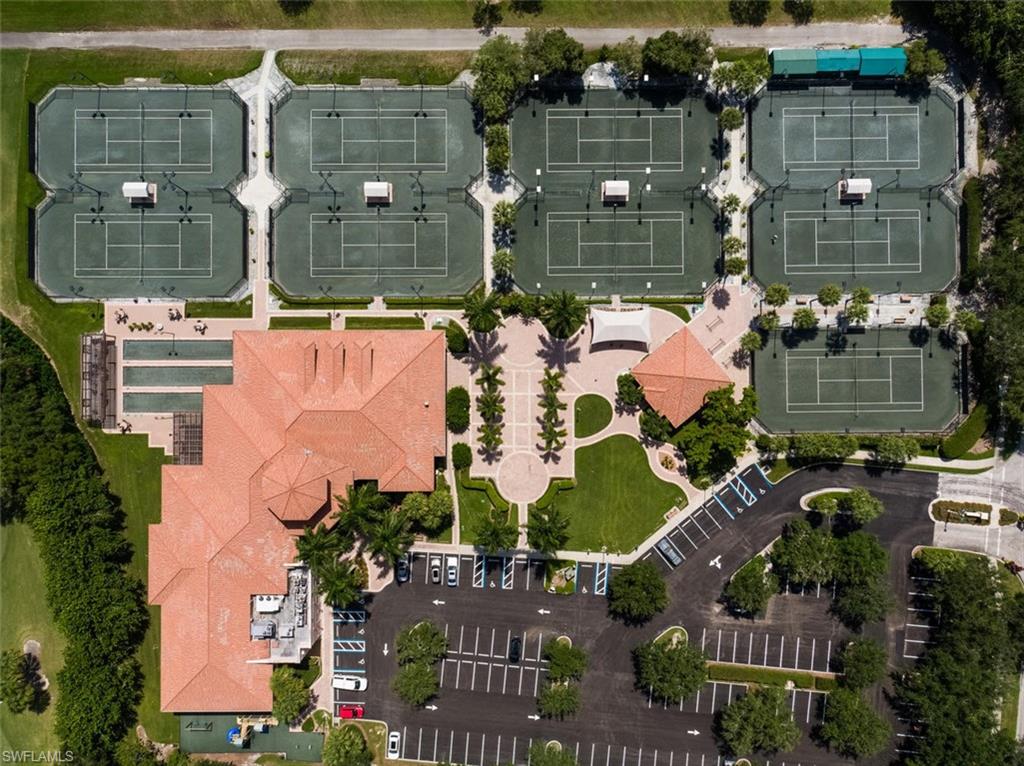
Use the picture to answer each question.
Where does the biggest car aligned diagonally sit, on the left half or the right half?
right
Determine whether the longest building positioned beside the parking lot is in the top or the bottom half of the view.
bottom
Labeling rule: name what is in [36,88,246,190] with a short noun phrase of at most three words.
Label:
tennis court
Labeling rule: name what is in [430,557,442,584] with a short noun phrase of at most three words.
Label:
vehicle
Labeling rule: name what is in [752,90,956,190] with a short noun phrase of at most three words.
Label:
tennis court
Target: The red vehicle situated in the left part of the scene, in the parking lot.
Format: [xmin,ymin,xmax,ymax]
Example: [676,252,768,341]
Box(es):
[339,705,365,720]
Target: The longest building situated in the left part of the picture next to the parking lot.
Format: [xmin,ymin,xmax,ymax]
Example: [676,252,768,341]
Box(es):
[147,330,446,713]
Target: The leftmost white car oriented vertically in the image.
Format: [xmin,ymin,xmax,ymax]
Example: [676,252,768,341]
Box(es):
[388,730,401,759]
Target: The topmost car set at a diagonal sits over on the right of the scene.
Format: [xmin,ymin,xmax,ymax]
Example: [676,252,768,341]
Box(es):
[656,537,682,565]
